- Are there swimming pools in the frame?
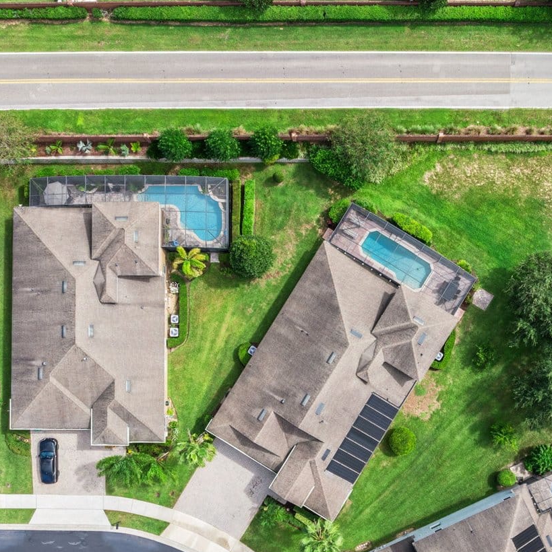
Yes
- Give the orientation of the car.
vertically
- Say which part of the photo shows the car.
bottom left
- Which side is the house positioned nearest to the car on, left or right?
left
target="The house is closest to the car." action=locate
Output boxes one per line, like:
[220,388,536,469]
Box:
[9,200,171,447]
